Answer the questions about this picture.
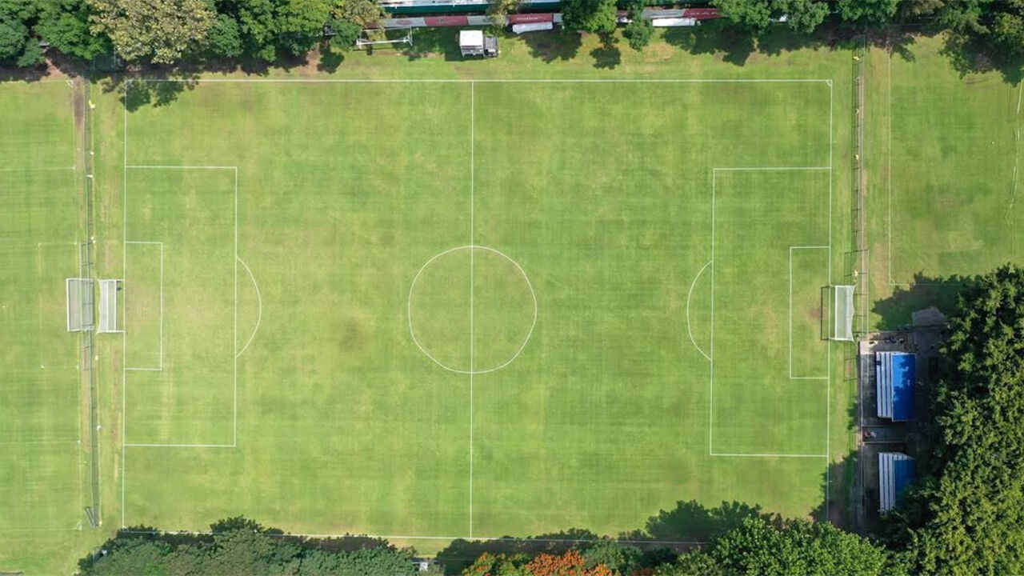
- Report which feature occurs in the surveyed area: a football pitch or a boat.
football pitch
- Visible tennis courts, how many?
none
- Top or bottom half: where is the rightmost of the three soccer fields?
top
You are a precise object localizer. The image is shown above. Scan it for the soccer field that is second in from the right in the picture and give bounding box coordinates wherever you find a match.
[110,68,846,561]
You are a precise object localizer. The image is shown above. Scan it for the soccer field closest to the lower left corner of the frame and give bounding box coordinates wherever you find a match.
[0,80,103,539]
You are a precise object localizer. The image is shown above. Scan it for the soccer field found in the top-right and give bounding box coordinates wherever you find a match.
[889,25,1024,285]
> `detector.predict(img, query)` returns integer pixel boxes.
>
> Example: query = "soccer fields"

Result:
[889,25,1024,285]
[110,68,846,561]
[0,80,103,539]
